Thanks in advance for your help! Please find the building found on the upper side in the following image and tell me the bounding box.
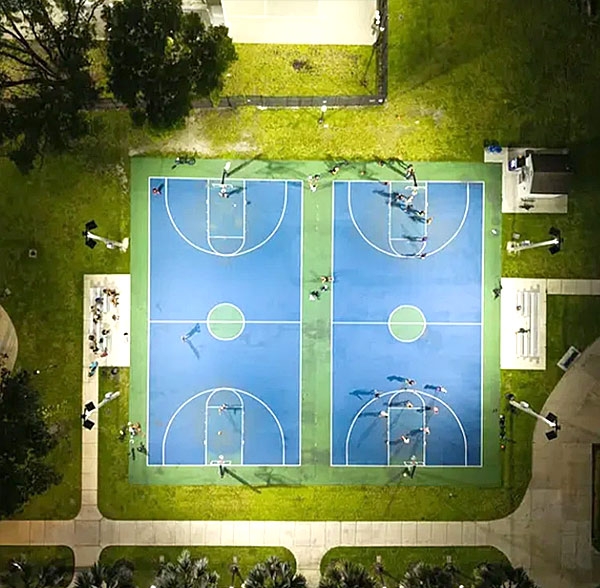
[520,149,577,199]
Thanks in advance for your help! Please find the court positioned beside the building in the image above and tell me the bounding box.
[315,160,502,487]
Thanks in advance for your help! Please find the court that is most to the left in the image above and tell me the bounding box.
[129,158,318,486]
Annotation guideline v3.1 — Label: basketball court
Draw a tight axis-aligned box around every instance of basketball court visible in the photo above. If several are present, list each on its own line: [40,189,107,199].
[315,160,502,487]
[129,158,318,486]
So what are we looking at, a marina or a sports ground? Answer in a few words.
sports ground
